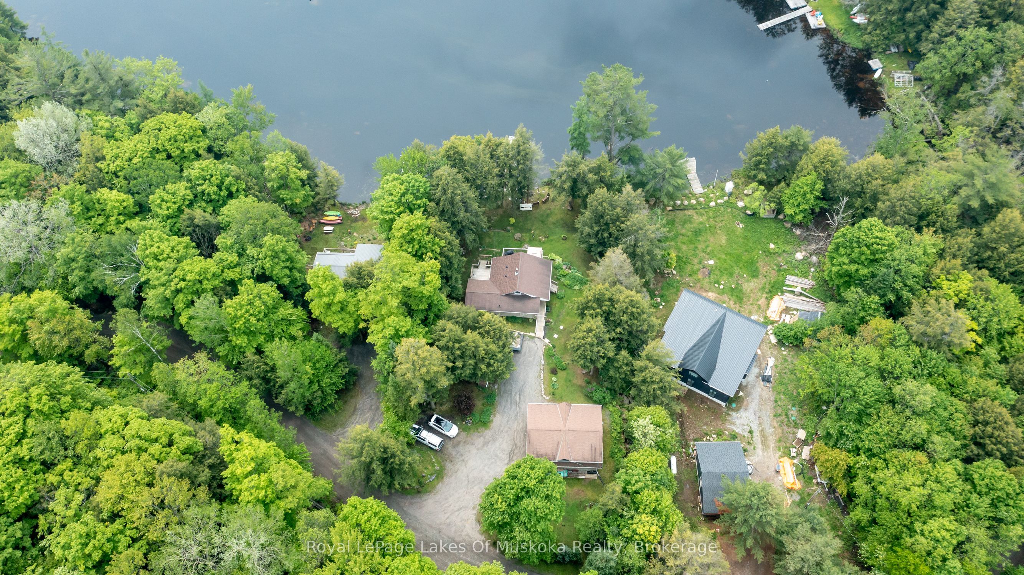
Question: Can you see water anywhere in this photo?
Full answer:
Yes, some water is visible.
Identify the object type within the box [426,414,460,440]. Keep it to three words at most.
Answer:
car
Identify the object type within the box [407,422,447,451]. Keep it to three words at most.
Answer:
truck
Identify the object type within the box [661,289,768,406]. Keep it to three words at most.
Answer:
house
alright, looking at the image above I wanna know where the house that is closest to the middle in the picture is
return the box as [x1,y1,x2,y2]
[467,248,558,324]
